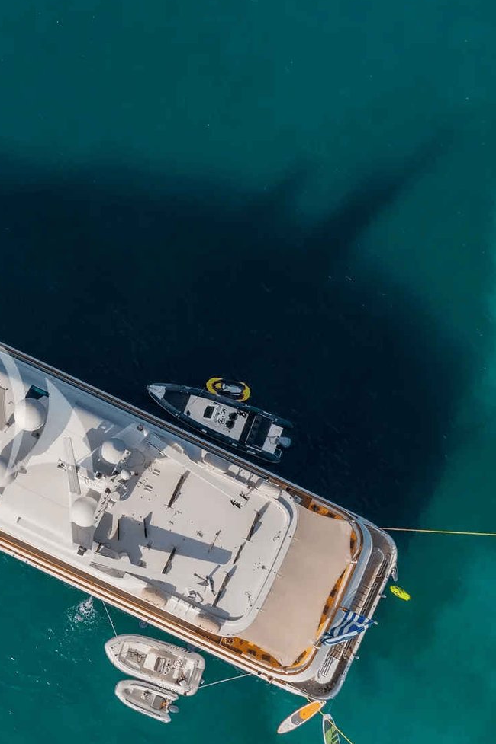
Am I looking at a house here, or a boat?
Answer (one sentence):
I can see a boat in this picture.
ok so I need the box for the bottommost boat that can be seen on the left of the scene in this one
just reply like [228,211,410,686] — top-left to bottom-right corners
[113,682,180,721]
